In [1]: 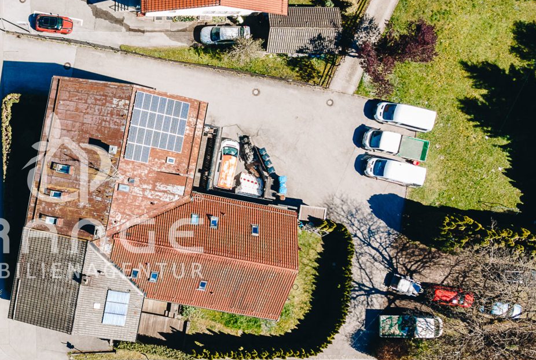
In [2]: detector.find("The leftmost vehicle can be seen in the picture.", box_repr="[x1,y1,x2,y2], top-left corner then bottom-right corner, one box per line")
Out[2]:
[35,13,73,36]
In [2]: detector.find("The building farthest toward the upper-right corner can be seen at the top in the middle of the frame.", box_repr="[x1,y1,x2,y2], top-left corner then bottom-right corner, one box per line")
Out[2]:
[263,7,344,57]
